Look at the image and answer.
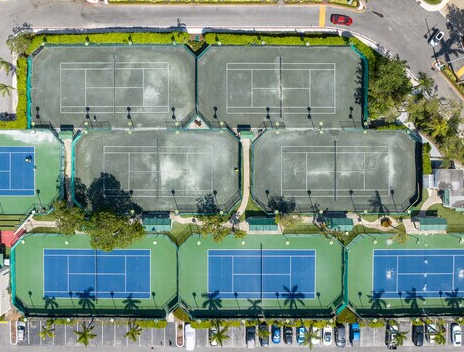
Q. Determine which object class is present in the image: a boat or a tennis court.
tennis court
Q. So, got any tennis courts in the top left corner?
Yes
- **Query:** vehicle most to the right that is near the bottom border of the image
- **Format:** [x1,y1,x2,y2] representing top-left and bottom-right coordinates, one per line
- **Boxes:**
[450,322,463,344]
